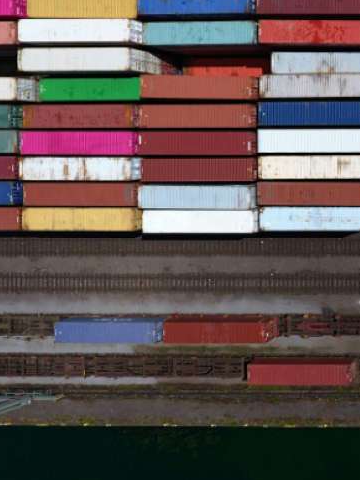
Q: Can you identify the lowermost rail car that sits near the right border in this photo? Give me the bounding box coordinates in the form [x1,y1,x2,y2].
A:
[243,356,357,375]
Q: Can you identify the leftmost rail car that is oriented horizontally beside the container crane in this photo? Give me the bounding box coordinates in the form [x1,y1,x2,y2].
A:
[0,355,85,377]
